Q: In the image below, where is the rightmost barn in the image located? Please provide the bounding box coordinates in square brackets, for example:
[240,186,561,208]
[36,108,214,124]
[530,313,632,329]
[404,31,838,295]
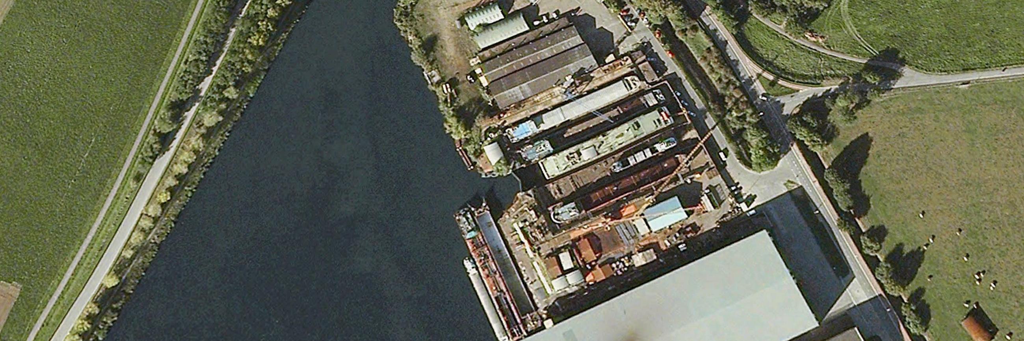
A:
[962,309,997,341]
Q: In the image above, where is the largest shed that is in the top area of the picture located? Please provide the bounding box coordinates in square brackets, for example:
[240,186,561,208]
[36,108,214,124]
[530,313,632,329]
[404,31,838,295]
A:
[478,24,595,110]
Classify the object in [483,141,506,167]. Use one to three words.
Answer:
building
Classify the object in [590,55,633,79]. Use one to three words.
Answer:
ship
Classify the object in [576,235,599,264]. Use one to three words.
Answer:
shed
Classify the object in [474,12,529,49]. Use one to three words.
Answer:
building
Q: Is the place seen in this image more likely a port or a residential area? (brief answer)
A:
port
